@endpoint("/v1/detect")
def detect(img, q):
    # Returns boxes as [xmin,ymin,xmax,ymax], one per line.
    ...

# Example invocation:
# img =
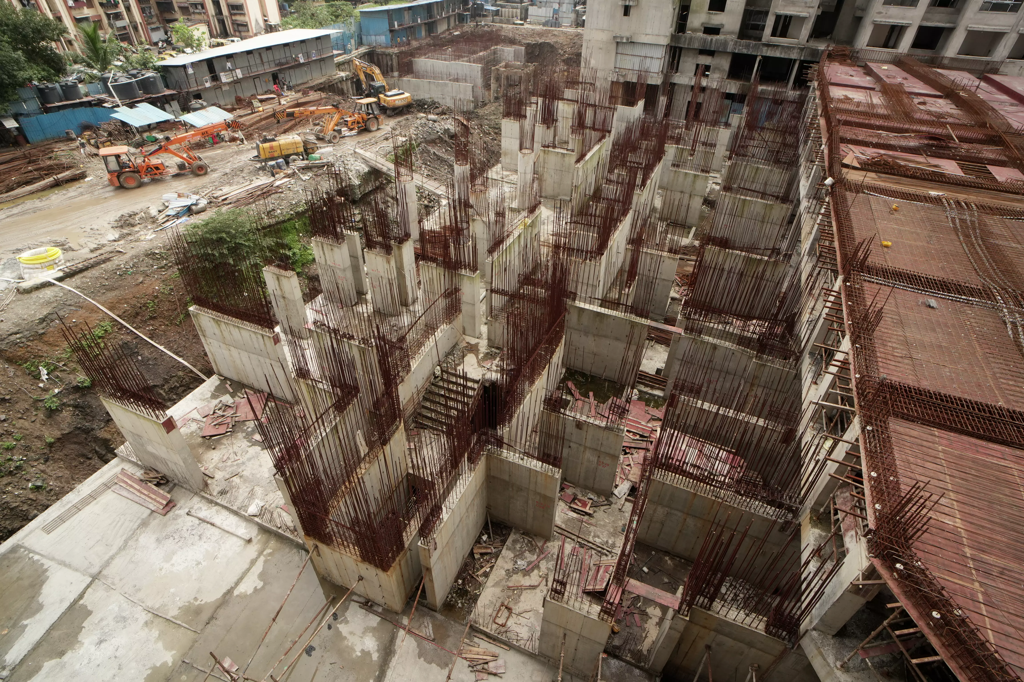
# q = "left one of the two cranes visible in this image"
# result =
[95,120,243,189]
